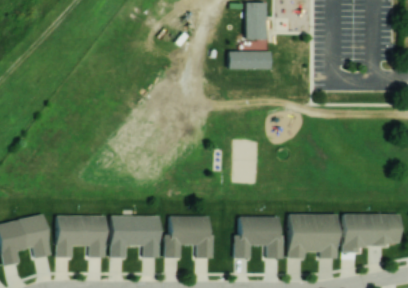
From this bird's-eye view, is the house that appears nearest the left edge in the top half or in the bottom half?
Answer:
bottom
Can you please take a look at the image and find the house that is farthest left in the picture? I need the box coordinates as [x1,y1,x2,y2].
[0,214,52,266]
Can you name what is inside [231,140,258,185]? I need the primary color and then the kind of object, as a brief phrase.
white sports court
